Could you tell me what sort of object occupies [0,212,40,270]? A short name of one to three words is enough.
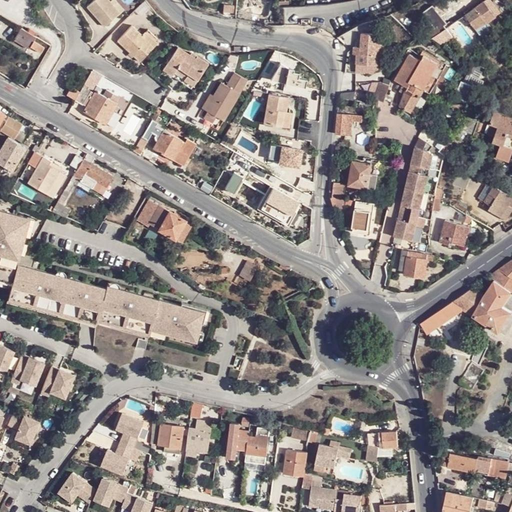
building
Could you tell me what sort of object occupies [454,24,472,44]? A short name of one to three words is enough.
swimming pool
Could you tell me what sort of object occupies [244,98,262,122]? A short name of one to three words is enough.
swimming pool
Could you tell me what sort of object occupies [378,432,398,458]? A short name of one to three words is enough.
house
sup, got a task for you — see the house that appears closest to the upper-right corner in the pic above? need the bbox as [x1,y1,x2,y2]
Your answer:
[465,0,498,32]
